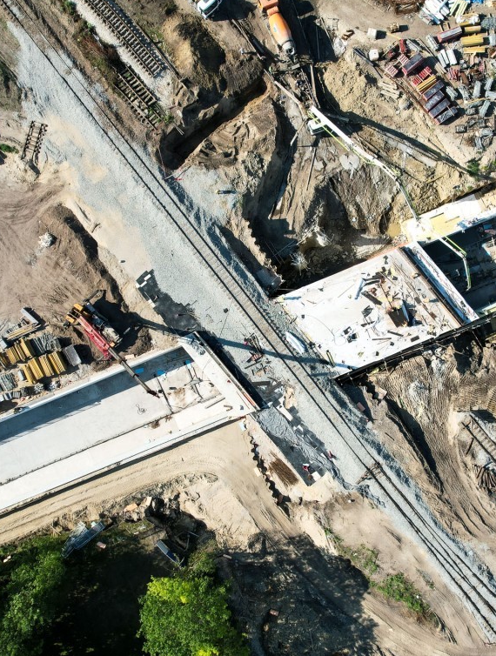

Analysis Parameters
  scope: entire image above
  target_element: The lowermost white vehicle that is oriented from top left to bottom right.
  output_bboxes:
[275,62,472,293]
